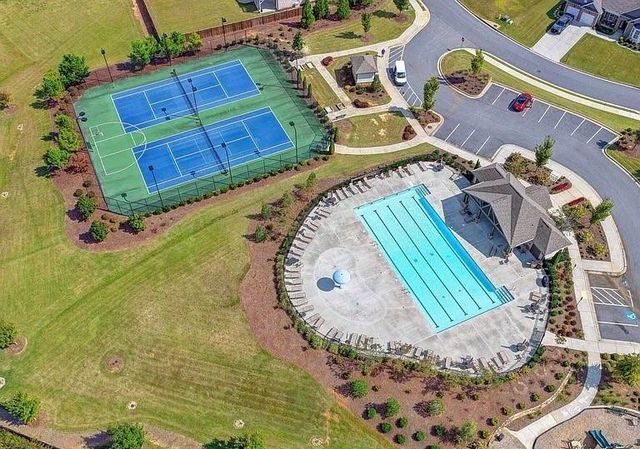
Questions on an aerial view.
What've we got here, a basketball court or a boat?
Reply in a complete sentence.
The image shows a basketball court.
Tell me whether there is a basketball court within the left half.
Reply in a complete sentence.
Yes, the scene does show a basketball court within the left half.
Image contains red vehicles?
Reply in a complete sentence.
Yes, a red vehicle can be made out from above.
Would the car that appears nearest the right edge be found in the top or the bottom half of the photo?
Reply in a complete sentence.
The car that appears nearest the right edge sits in the top half of the picture.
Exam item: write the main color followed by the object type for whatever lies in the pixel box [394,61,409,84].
white vehicle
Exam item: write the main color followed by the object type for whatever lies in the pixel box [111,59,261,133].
blue tennis court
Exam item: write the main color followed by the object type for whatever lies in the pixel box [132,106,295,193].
blue tennis court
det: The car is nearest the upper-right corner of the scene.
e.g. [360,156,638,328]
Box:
[552,12,574,33]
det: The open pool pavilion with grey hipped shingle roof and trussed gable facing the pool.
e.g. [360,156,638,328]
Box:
[459,162,572,266]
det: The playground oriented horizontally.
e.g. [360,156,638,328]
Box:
[532,407,640,449]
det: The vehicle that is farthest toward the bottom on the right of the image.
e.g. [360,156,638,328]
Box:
[512,92,532,111]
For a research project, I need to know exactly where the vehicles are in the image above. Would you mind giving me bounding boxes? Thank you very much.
[394,61,409,84]
[512,92,532,111]
[552,12,574,33]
